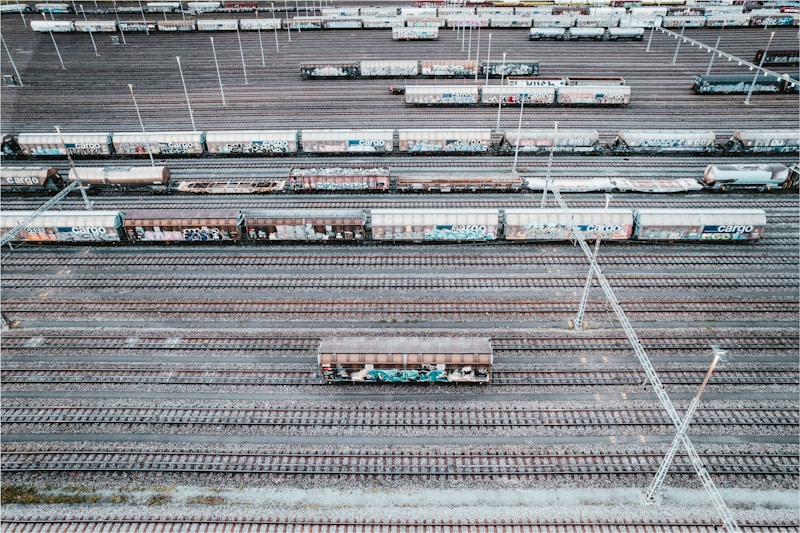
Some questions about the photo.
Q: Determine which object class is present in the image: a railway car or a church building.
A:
railway car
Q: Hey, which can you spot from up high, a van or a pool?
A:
van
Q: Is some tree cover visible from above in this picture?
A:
No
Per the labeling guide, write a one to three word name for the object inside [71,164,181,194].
rail car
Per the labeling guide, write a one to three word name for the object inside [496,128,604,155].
rail car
